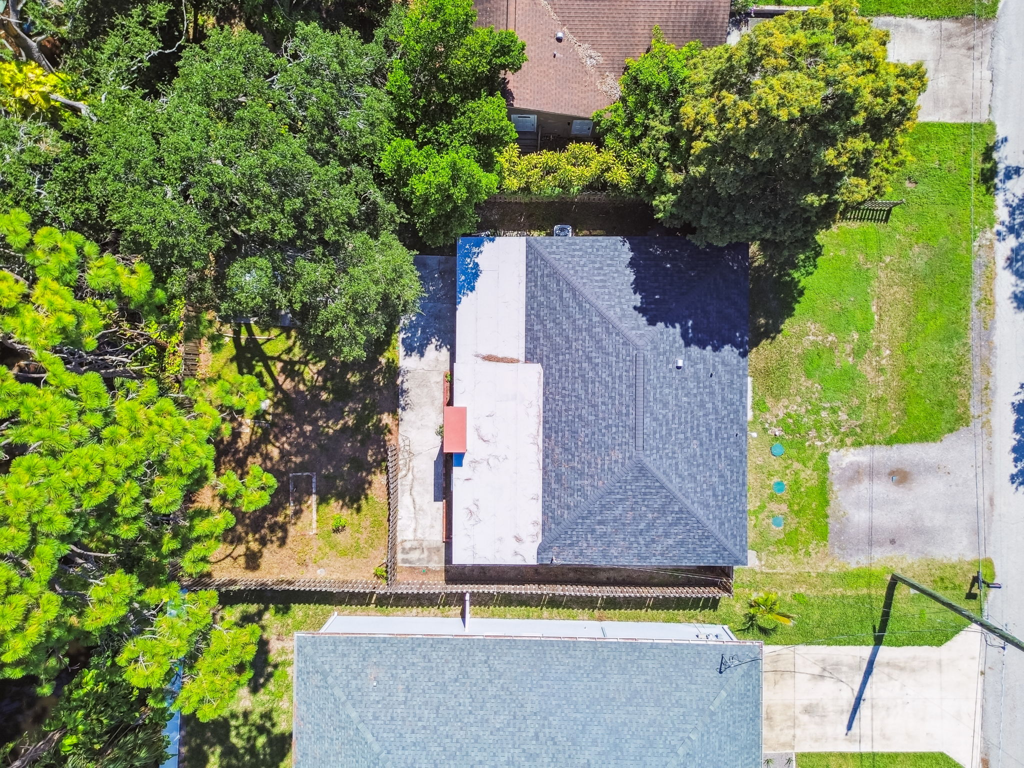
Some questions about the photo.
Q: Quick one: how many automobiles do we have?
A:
zero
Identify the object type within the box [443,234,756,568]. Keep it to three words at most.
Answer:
house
